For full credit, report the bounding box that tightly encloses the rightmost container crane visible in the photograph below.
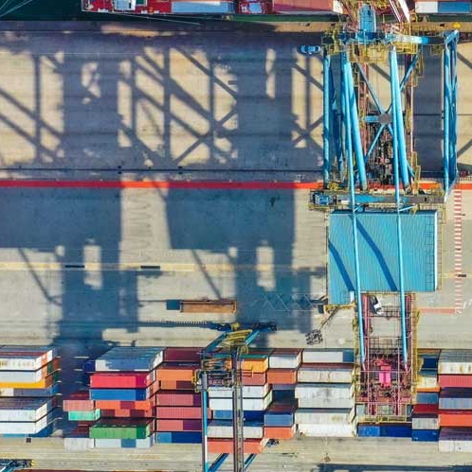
[309,0,472,423]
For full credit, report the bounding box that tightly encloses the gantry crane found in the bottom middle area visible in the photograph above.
[193,320,276,472]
